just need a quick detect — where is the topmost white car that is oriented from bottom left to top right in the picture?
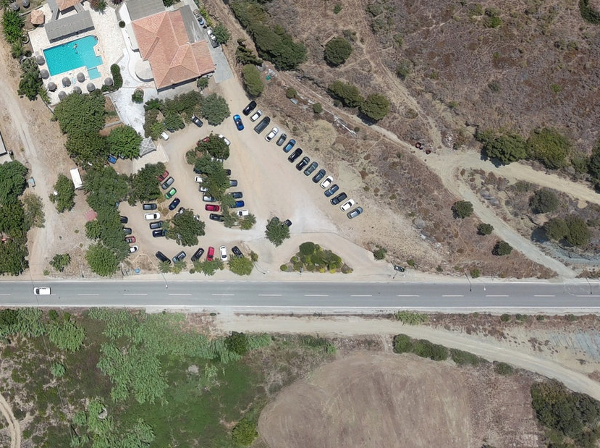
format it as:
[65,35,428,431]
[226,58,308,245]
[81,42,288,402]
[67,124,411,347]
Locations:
[250,107,263,123]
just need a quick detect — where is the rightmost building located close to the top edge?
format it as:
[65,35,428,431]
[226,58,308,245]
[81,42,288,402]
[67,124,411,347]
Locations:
[124,0,214,89]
